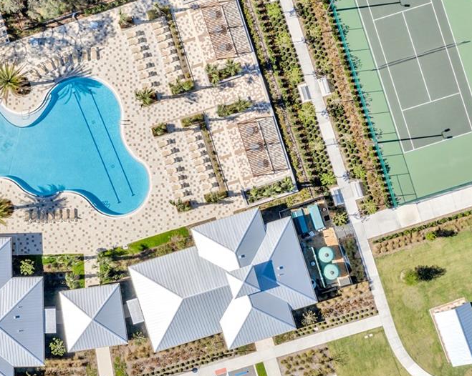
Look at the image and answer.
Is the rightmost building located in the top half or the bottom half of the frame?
bottom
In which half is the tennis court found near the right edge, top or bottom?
top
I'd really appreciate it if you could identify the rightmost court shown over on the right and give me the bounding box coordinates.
[357,0,472,153]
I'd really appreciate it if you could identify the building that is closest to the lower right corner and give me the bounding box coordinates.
[433,301,472,367]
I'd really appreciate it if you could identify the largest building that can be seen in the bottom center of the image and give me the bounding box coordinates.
[131,208,319,352]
